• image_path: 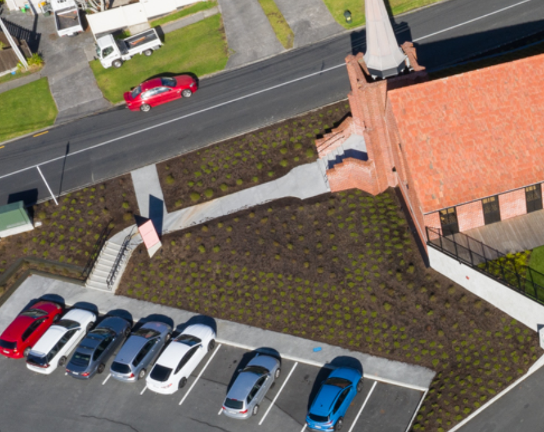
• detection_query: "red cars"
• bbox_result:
[125,74,198,110]
[0,302,61,363]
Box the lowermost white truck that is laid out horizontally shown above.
[85,28,162,68]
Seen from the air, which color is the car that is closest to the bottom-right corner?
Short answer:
blue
